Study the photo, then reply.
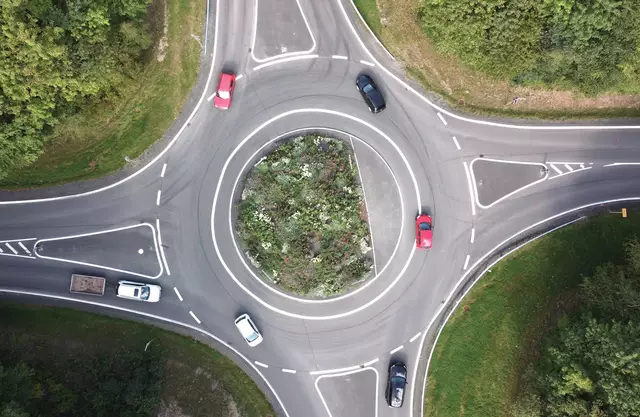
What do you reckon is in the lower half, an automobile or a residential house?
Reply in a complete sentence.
What appears in the lower half is an automobile.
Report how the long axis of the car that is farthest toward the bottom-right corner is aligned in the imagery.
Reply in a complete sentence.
The car that is farthest toward the bottom-right corner runs from top to bottom in the image.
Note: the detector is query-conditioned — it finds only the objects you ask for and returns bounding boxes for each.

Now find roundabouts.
[156,54,475,374]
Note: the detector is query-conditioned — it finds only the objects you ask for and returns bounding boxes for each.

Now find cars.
[388,364,409,408]
[415,213,434,248]
[236,314,263,346]
[357,76,386,114]
[114,281,162,304]
[214,73,236,109]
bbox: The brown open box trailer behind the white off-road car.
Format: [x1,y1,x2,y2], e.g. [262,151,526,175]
[71,274,117,296]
